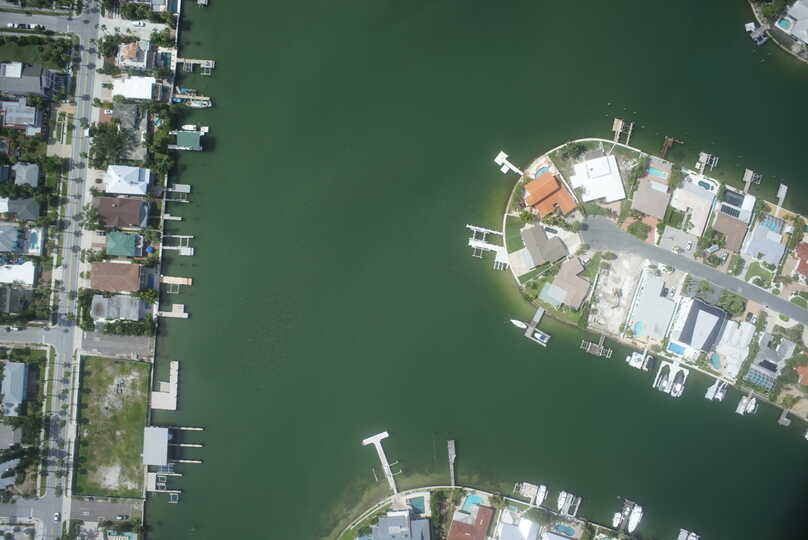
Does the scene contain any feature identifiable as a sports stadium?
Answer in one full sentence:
No, the photo shows no sports stadium.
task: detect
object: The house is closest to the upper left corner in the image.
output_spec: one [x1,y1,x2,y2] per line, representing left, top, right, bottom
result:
[0,62,55,96]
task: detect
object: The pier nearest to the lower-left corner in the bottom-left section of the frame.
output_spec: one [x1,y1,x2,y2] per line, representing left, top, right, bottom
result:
[146,472,182,494]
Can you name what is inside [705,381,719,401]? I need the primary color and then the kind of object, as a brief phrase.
white boat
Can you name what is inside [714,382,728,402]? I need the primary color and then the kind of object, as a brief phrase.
white boat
